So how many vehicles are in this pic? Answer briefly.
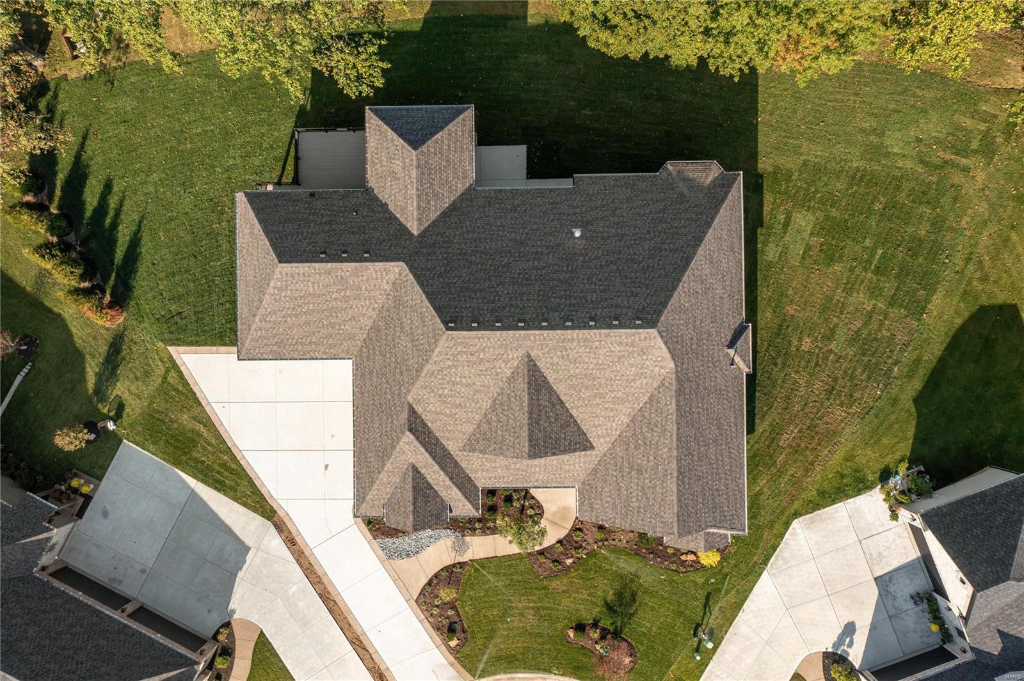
none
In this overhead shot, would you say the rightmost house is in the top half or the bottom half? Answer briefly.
bottom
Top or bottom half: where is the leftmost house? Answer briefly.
bottom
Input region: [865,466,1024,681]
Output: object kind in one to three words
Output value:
house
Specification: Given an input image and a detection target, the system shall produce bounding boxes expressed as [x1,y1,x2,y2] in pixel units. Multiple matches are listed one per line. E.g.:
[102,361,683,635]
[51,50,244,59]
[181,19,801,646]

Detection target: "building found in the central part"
[235,103,754,552]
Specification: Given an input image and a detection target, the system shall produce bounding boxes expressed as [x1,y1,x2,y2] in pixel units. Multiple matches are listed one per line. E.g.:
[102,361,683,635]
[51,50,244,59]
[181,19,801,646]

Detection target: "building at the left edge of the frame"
[0,477,220,681]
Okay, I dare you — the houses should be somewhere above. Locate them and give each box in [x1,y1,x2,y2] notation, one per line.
[235,103,754,552]
[865,466,1024,681]
[0,477,220,681]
